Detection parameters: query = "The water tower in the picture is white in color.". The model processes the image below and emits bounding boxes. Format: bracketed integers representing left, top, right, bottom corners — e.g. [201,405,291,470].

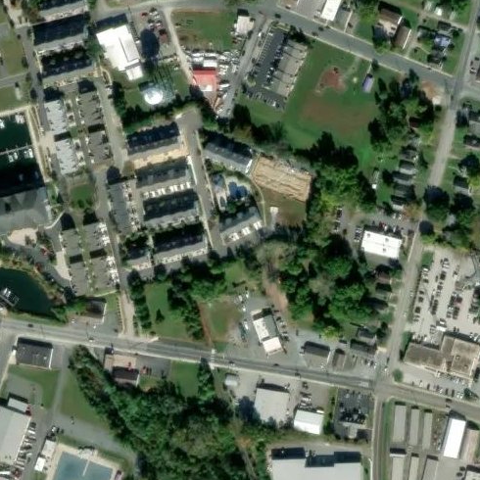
[142,80,173,108]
